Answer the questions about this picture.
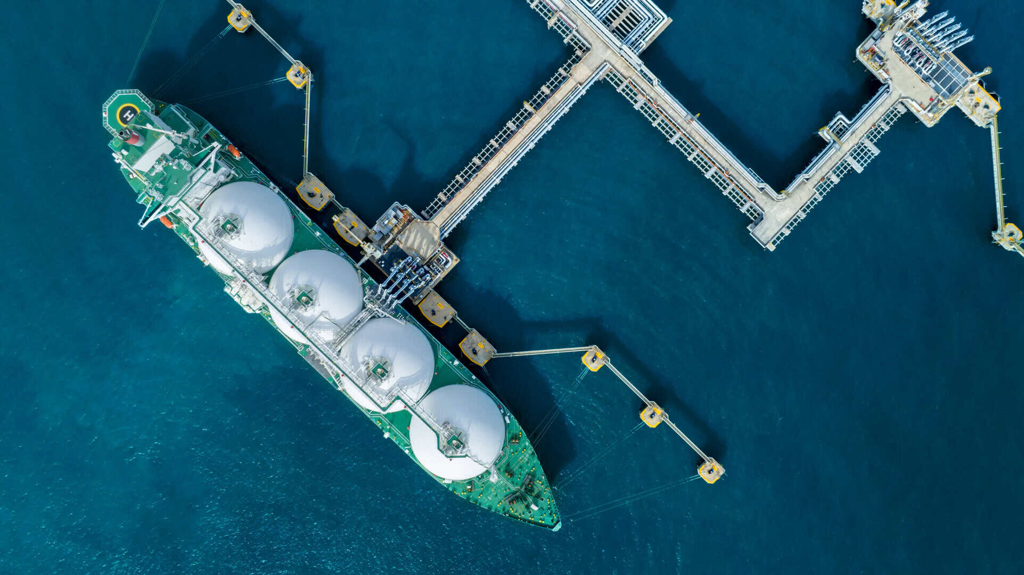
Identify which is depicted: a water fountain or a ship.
ship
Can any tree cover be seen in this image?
No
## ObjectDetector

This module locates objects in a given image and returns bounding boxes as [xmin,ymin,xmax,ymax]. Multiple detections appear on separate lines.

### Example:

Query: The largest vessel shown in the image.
[103,89,561,533]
